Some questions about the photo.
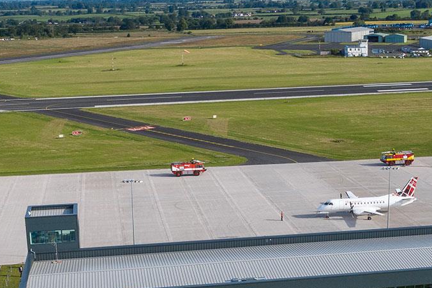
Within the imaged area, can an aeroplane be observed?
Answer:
Yes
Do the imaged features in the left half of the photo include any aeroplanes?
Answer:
No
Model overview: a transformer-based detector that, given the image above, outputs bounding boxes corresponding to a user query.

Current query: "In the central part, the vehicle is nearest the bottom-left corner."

[172,160,205,176]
